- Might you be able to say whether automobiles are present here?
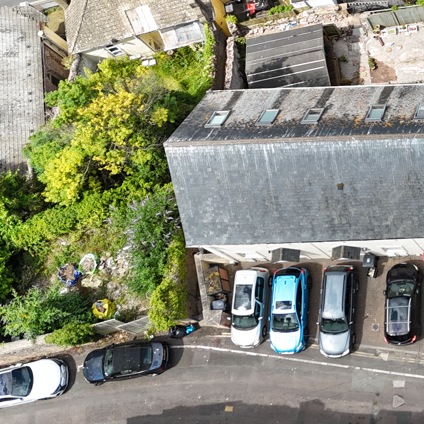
Yes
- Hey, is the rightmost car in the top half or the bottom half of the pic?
bottom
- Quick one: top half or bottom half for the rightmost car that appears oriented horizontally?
bottom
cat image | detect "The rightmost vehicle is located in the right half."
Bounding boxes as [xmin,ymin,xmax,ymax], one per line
[380,267,423,345]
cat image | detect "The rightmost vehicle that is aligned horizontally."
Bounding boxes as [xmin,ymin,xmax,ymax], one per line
[85,339,172,388]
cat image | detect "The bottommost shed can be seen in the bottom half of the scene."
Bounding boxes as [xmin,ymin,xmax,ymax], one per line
[204,267,233,295]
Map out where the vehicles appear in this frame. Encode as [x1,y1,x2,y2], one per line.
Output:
[85,339,172,388]
[380,267,423,345]
[0,358,71,408]
[265,268,312,354]
[313,267,360,358]
[225,268,272,347]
